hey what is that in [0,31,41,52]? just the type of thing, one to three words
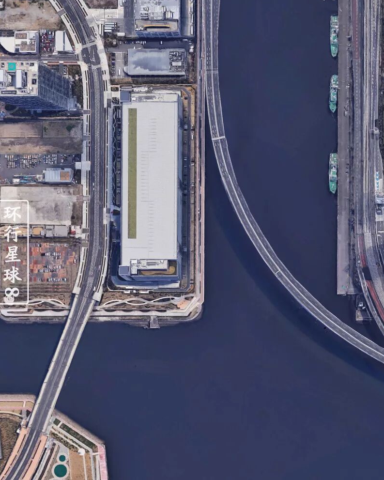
building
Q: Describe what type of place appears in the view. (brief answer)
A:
port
